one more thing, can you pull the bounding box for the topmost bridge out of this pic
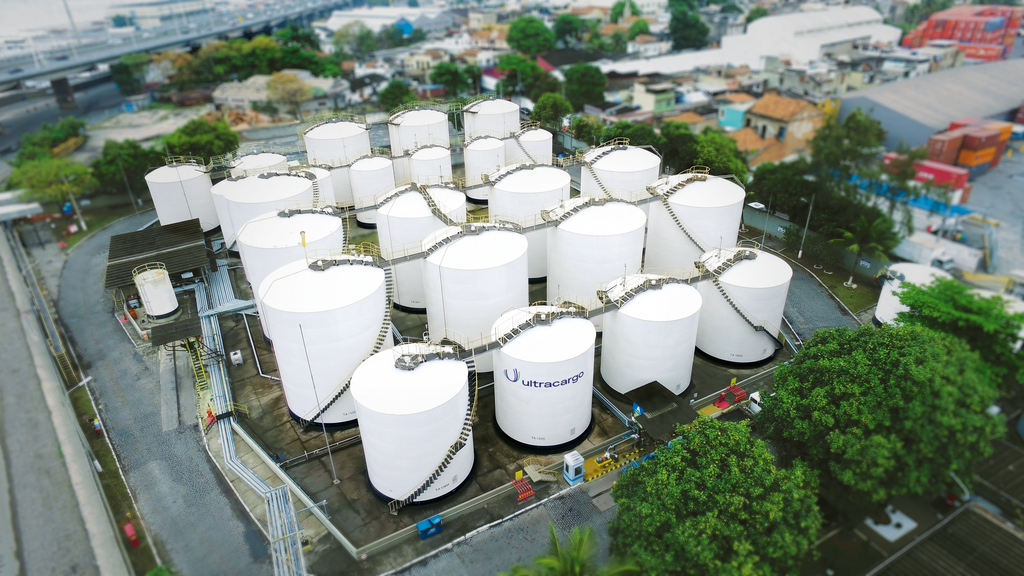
[0,0,342,118]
